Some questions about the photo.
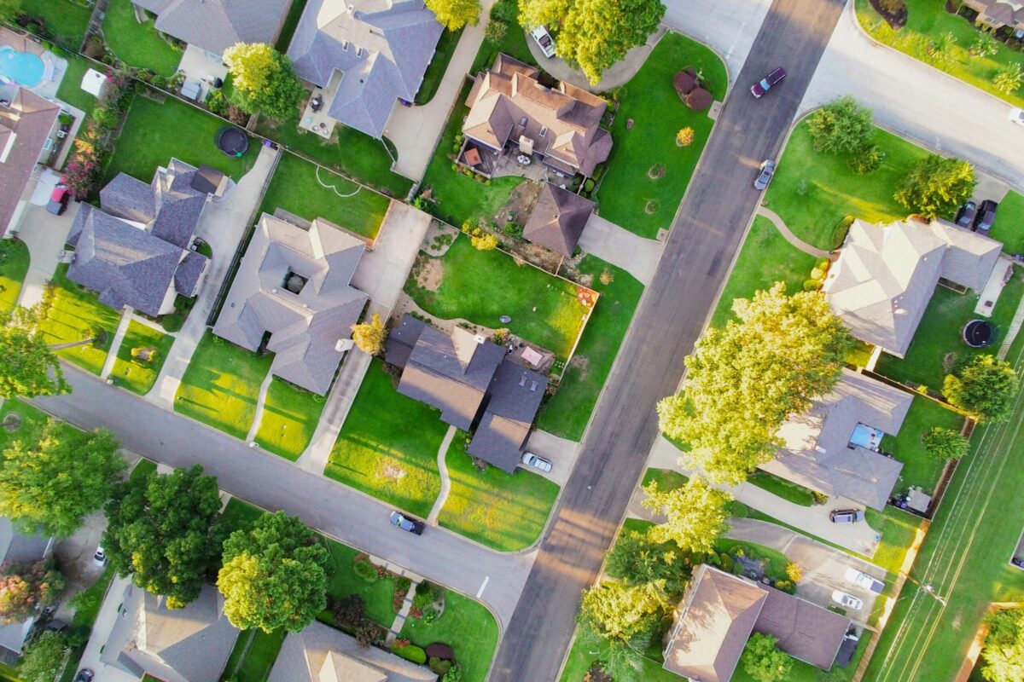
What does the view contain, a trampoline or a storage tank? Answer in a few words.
trampoline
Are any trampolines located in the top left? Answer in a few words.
Yes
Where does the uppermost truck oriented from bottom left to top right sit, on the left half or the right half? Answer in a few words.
right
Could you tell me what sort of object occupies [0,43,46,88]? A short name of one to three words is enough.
swimming pool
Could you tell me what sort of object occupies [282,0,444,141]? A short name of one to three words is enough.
house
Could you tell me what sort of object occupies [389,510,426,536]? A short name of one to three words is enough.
truck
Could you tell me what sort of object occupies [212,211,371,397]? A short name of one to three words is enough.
house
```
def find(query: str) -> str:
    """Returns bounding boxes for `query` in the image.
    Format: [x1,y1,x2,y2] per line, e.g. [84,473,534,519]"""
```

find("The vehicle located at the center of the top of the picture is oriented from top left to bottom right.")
[529,24,557,61]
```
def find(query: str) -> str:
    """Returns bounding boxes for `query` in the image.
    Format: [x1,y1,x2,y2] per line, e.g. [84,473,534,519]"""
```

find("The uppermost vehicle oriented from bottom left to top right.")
[750,66,787,98]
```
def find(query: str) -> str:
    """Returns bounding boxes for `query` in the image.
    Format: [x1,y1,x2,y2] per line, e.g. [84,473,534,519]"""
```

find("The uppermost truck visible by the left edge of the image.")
[42,180,66,216]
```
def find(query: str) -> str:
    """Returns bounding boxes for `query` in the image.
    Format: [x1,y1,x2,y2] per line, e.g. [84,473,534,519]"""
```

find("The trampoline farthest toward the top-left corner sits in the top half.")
[211,122,250,159]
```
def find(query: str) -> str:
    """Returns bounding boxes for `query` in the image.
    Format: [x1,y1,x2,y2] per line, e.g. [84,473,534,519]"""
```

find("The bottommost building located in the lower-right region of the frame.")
[662,565,852,682]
